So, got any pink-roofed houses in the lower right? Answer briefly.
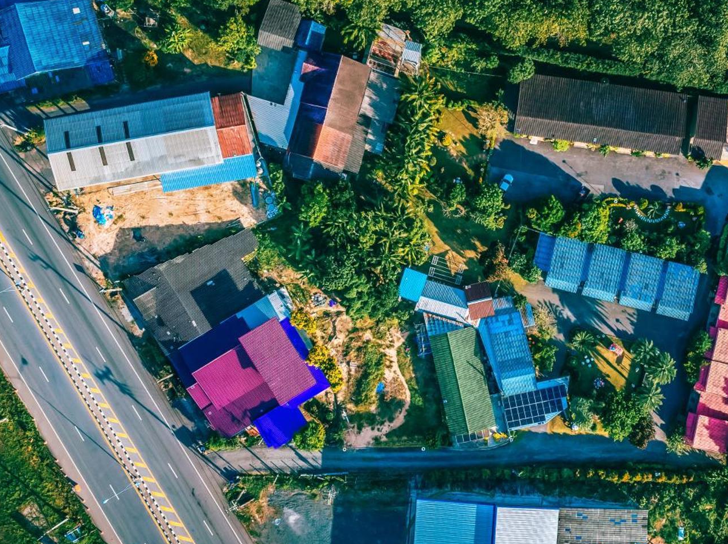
Yes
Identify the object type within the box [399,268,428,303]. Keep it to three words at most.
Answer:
shed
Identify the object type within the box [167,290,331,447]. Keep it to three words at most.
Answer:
house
